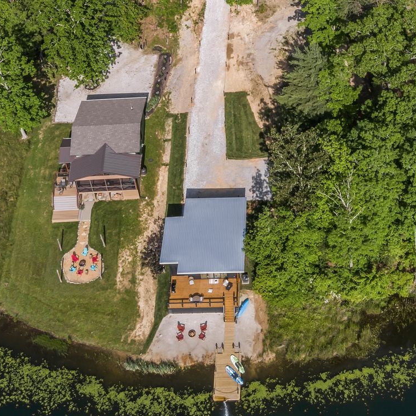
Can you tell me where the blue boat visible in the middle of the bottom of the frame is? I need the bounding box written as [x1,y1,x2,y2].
[235,297,249,329]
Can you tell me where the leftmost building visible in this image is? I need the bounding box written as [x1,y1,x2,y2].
[54,101,147,201]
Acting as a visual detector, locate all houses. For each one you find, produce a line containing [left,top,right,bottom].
[159,197,250,292]
[54,101,147,201]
